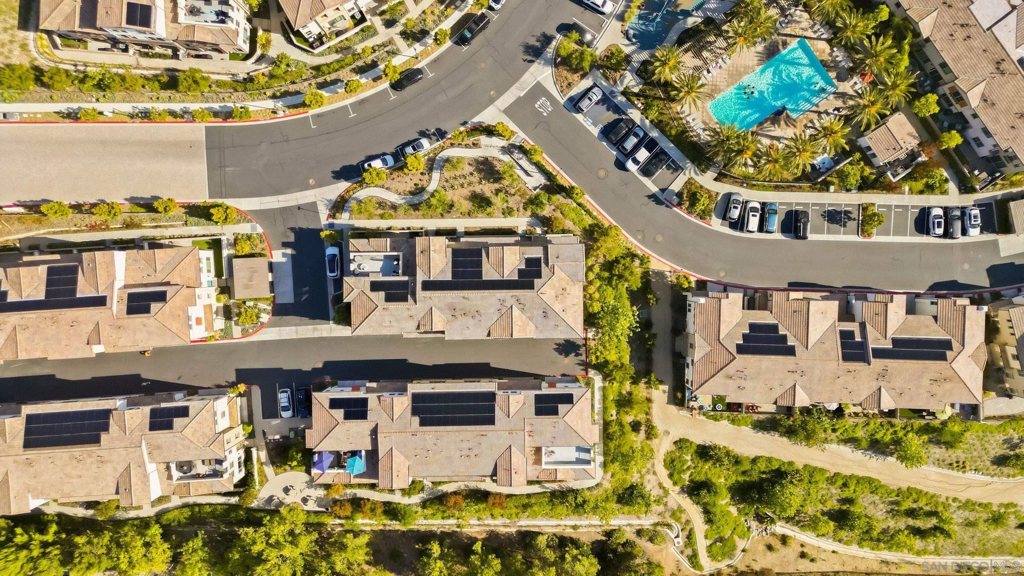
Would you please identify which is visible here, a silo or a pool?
pool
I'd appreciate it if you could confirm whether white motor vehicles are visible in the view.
Yes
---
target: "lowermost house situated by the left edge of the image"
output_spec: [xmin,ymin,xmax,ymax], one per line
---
[0,393,247,516]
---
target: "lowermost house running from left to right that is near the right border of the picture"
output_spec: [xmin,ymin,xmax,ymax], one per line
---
[679,291,990,410]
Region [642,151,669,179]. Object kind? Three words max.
car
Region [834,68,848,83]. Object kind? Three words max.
umbrella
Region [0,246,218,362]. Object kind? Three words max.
house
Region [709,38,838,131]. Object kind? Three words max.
swimming pool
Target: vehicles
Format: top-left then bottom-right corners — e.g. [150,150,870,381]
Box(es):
[457,10,492,48]
[928,208,944,236]
[575,86,603,114]
[642,151,669,179]
[626,138,658,170]
[618,126,645,154]
[606,117,634,145]
[402,138,430,155]
[296,387,311,418]
[946,208,963,238]
[763,203,779,232]
[744,202,762,234]
[571,23,598,48]
[964,207,981,236]
[278,388,294,418]
[364,153,394,170]
[325,247,340,278]
[794,210,810,240]
[725,192,743,222]
[393,68,424,91]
